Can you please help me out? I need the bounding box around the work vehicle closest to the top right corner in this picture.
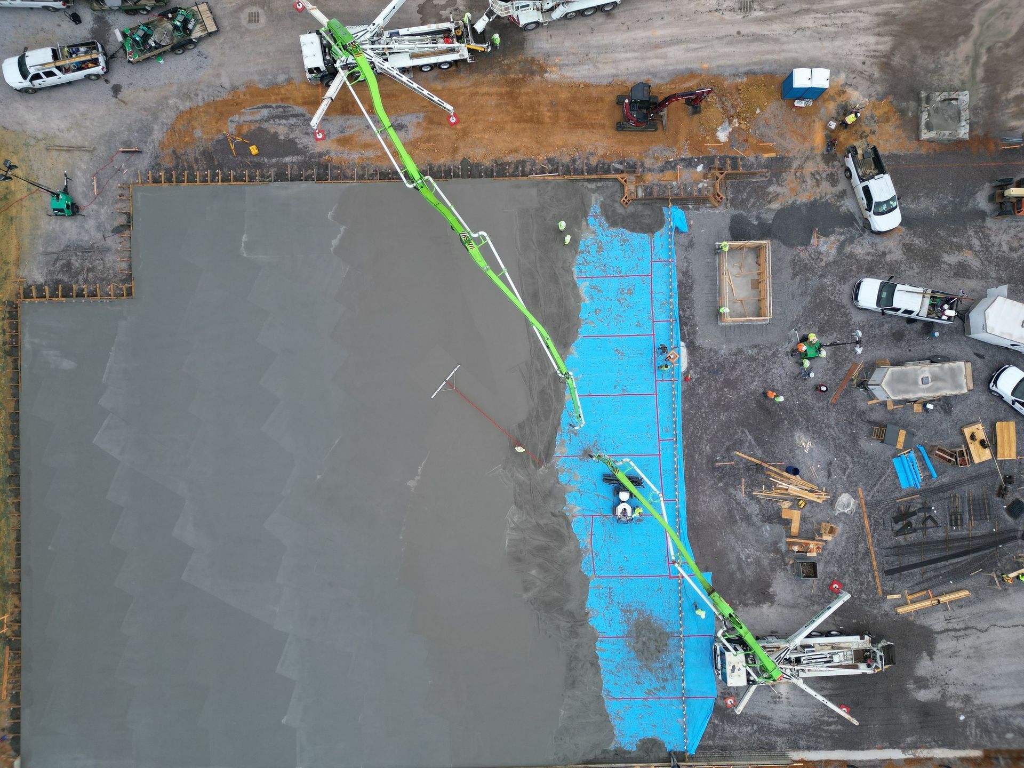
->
[978,176,1024,219]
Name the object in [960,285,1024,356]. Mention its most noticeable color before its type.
white trailer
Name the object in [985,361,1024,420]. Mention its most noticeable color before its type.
white car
